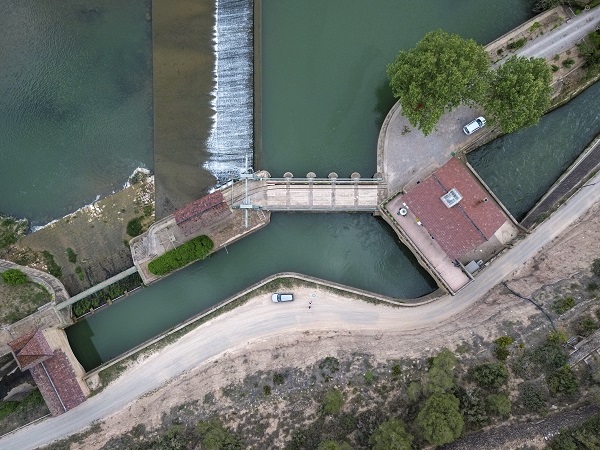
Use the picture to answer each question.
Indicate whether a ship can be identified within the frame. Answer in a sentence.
No, the photo shows no ship.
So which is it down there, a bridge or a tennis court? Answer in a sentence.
Of the two, only a bridge appears.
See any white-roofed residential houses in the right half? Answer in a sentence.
No, the scene shows no white-roofed residential house in the right half.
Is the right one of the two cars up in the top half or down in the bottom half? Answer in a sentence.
The top half of the photo is where the right one of the two cars is.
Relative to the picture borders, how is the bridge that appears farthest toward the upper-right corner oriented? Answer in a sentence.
What the image shows is the bridge that appears farthest toward the upper-right corner lying from left to right.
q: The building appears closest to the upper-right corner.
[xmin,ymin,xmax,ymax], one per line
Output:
[402,158,508,259]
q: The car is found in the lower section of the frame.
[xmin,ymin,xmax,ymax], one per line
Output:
[272,291,294,304]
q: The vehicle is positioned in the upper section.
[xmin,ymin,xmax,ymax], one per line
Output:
[461,116,486,136]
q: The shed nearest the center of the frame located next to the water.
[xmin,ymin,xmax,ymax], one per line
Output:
[174,190,232,237]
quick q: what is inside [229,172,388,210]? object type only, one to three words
bridge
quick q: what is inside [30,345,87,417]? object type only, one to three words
house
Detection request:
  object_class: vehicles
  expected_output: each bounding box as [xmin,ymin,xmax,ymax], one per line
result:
[461,116,486,136]
[272,291,294,304]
